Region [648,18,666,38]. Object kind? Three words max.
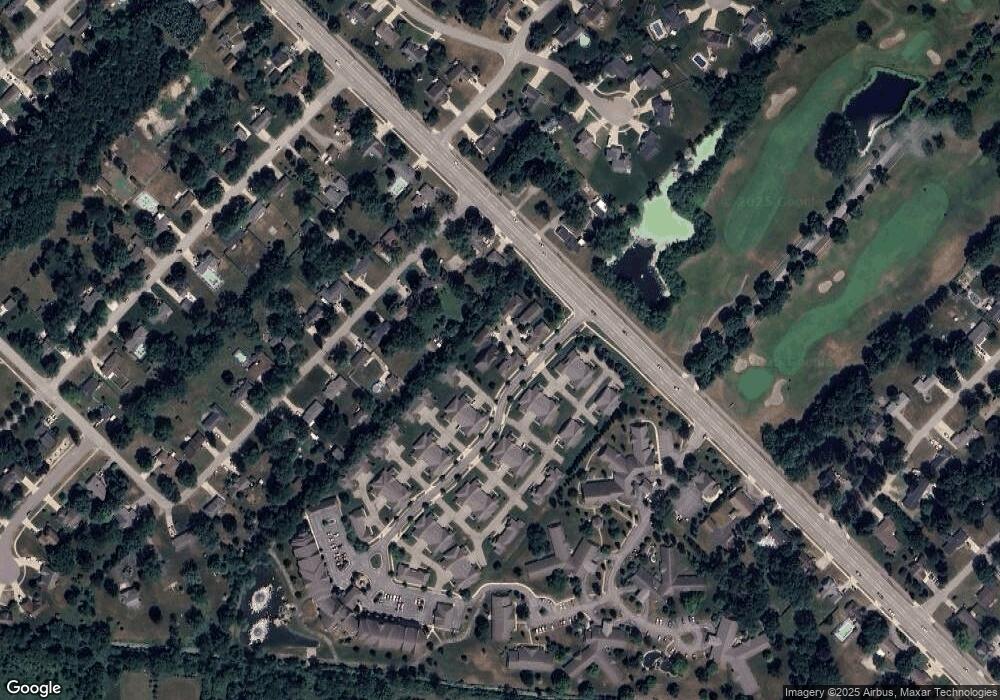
swimming pool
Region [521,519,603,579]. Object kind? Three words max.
building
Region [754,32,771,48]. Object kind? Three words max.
swimming pool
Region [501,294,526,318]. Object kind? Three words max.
house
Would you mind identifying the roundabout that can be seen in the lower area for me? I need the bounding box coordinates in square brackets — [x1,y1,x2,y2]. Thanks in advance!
[357,544,394,578]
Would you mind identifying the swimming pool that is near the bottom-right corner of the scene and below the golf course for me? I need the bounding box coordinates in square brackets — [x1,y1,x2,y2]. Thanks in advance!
[834,619,856,641]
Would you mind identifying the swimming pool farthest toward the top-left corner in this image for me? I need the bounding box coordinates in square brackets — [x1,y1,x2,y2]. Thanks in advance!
[135,190,159,213]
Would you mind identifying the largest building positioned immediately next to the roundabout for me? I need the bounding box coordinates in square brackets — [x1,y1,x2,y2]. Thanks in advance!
[289,531,368,634]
